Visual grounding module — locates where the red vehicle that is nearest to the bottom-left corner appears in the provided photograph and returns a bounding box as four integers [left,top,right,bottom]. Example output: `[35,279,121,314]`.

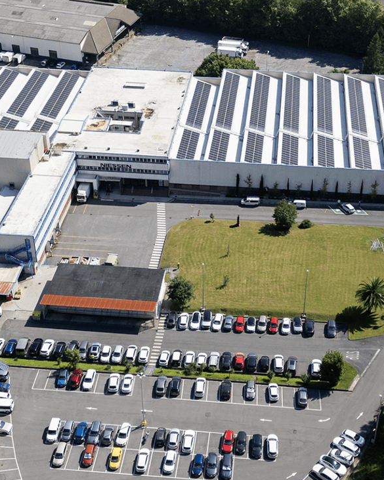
[82,445,97,466]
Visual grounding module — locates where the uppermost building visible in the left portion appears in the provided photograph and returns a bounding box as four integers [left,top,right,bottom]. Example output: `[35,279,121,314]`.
[0,0,143,67]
